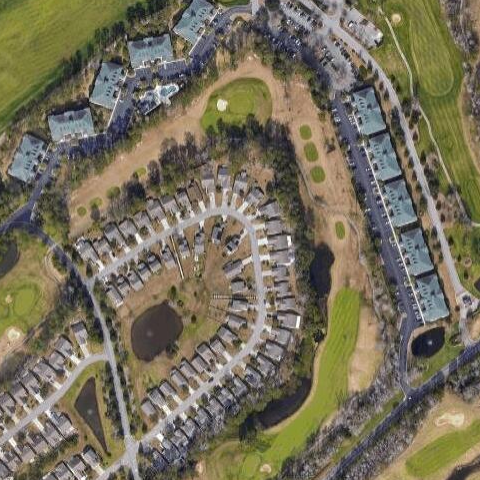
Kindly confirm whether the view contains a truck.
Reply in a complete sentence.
No, this view has no truck in it.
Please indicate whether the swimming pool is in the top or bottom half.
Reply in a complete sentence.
The top half of the photo is where the swimming pool is.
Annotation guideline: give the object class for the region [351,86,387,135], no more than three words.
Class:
building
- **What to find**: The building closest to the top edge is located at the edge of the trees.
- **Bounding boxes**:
[174,0,220,44]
